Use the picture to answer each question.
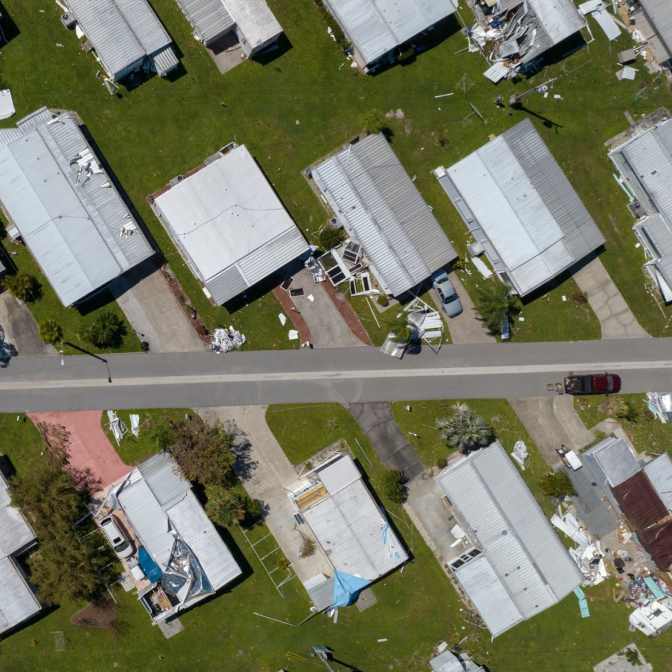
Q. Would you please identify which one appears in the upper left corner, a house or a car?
house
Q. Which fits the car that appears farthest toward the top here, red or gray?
gray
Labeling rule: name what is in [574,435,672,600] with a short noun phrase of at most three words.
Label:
house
